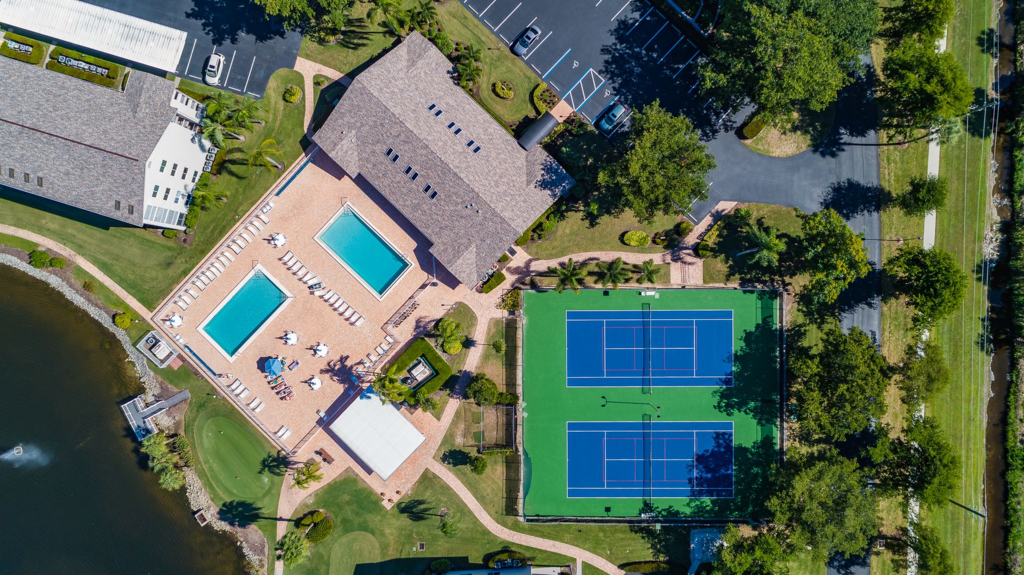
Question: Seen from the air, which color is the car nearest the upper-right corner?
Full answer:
In this view, the car nearest the upper-right corner is blue.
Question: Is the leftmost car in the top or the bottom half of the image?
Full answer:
The top half of the photo is where the leftmost car is.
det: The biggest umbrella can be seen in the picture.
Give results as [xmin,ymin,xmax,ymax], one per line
[265,358,282,376]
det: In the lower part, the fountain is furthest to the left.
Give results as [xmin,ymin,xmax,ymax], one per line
[0,442,51,474]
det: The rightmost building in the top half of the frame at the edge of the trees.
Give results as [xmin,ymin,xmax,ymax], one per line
[313,30,574,289]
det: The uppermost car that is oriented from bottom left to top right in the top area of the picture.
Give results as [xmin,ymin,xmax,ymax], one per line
[513,24,541,56]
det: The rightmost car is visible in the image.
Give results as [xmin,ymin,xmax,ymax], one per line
[599,102,629,132]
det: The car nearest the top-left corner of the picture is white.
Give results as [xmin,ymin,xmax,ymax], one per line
[204,53,224,86]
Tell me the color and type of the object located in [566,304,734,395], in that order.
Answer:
blue tennis court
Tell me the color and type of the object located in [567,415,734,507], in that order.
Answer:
blue tennis court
